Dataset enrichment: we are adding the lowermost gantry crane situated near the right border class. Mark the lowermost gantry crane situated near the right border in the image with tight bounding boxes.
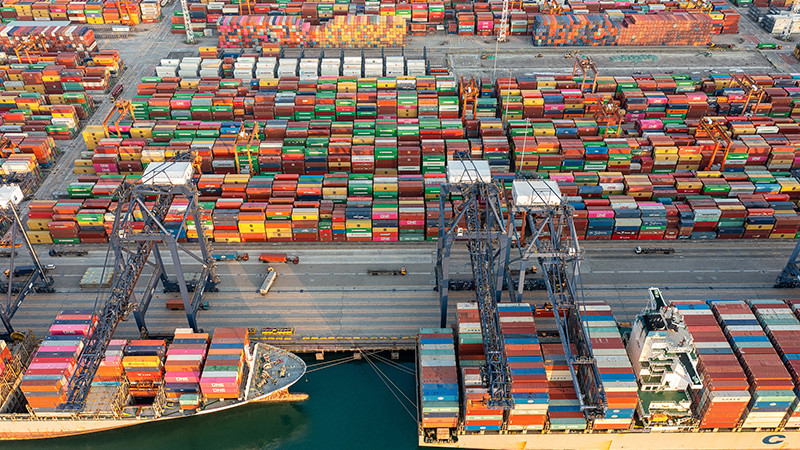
[769,234,800,287]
